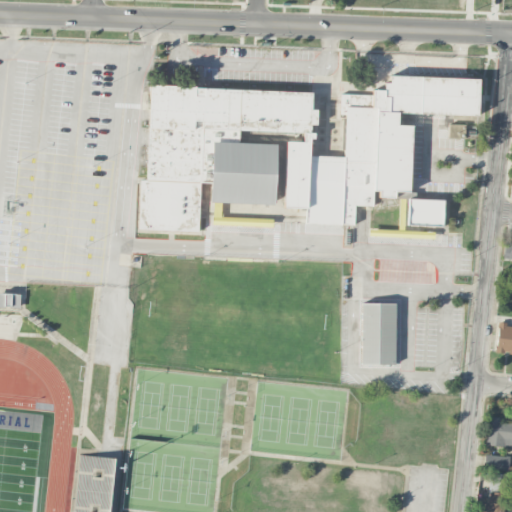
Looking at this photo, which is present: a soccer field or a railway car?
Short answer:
soccer field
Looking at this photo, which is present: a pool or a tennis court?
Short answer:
tennis court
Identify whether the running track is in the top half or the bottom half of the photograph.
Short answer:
bottom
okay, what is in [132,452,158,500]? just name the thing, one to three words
tennis court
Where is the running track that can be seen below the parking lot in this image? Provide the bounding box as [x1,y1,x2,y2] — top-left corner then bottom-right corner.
[0,337,76,512]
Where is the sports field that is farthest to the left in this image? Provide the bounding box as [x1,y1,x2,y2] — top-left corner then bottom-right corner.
[0,410,54,512]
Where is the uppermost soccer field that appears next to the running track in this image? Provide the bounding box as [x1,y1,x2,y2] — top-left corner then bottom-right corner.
[146,266,330,364]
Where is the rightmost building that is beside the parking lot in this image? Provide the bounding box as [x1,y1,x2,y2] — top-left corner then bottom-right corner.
[138,75,484,231]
